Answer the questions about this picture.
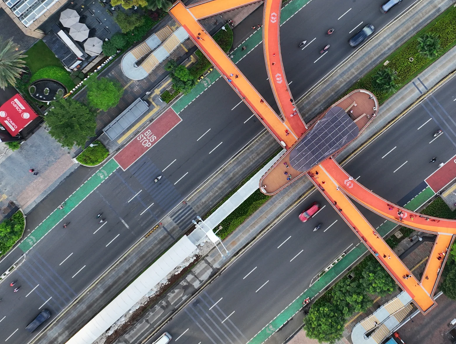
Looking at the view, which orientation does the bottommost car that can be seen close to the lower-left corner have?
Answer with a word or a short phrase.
on a diagonal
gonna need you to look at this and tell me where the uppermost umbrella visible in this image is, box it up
[60,9,80,27]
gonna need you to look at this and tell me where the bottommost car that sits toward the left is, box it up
[26,308,52,334]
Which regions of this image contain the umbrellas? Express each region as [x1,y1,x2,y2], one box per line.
[60,9,80,27]
[70,23,89,42]
[85,38,101,56]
